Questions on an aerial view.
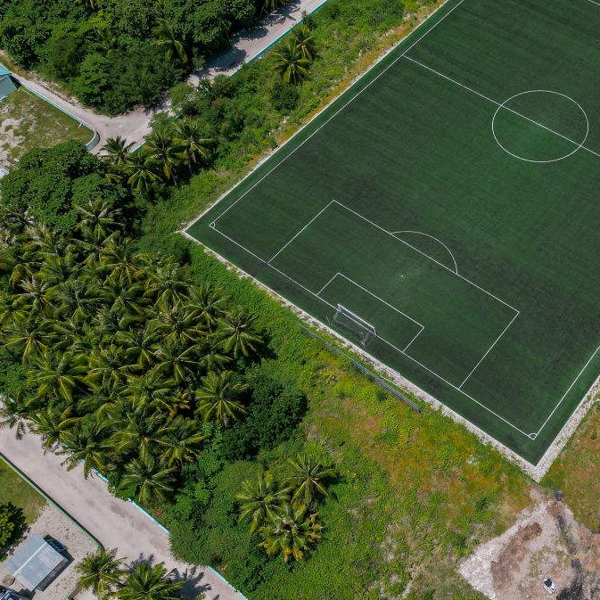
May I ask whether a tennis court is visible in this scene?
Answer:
No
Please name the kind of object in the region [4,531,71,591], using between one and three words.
shed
